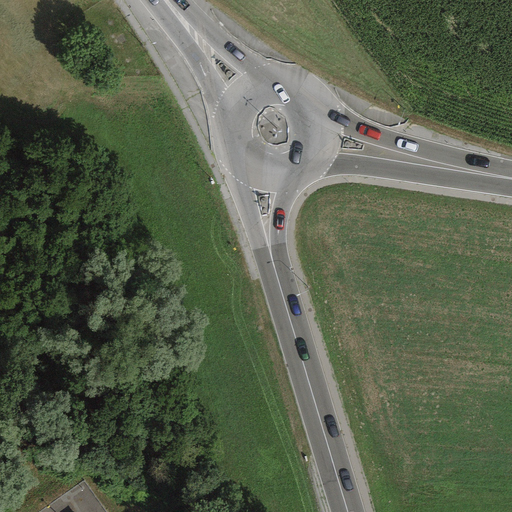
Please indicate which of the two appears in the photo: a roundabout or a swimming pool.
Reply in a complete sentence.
I can see a roundabout in this picture.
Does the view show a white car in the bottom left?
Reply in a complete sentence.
No, there is no white car in the bottom left.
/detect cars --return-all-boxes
[326,414,338,438]
[328,110,352,126]
[296,337,309,360]
[396,138,420,152]
[276,208,286,230]
[292,140,302,164]
[289,294,301,316]
[340,468,353,492]
[274,83,291,104]
[224,41,246,60]
[359,125,382,138]
[466,154,490,167]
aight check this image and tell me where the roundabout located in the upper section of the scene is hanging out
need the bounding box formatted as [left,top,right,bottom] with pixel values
[197,60,344,262]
